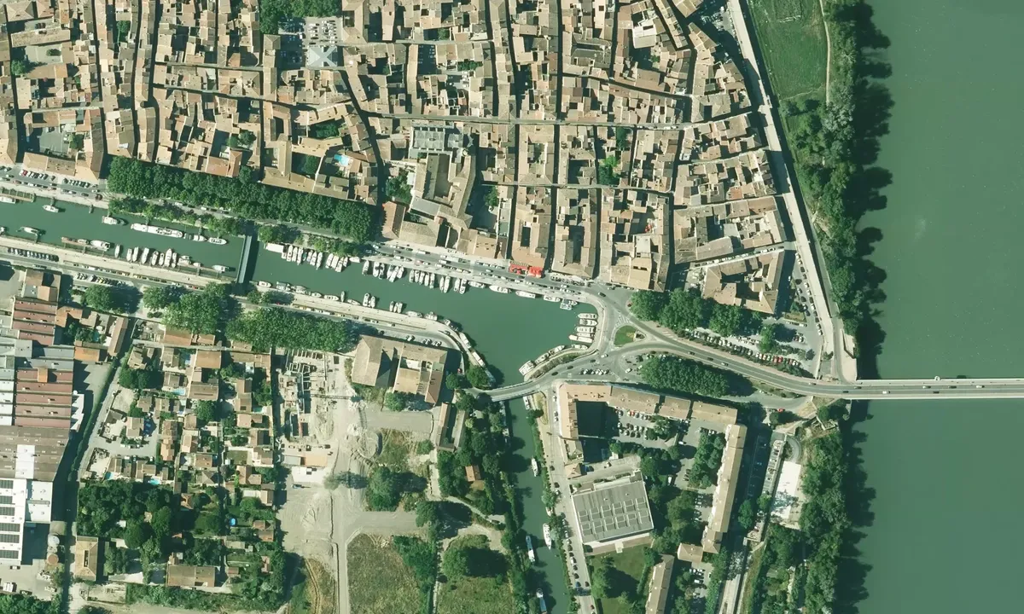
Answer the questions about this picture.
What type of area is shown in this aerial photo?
residential area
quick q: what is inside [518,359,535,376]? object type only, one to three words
boat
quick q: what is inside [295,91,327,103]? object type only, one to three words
house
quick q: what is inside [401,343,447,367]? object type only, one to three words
barn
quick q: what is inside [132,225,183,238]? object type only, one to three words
boat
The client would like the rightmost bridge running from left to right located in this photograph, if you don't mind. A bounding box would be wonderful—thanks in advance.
[853,377,1024,399]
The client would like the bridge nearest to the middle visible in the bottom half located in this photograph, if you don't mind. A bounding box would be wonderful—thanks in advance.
[488,373,540,404]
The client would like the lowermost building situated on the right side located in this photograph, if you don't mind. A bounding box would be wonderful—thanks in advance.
[641,554,674,614]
